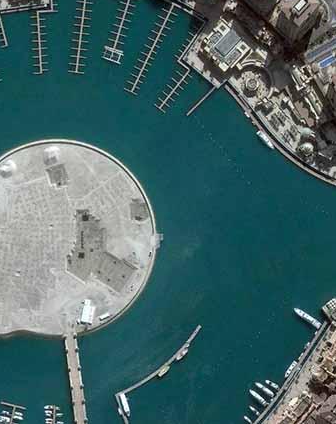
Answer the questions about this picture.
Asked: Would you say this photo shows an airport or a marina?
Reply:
marina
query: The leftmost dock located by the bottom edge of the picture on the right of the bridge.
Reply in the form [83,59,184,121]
[116,324,201,424]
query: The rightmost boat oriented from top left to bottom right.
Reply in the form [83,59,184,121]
[294,308,324,328]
